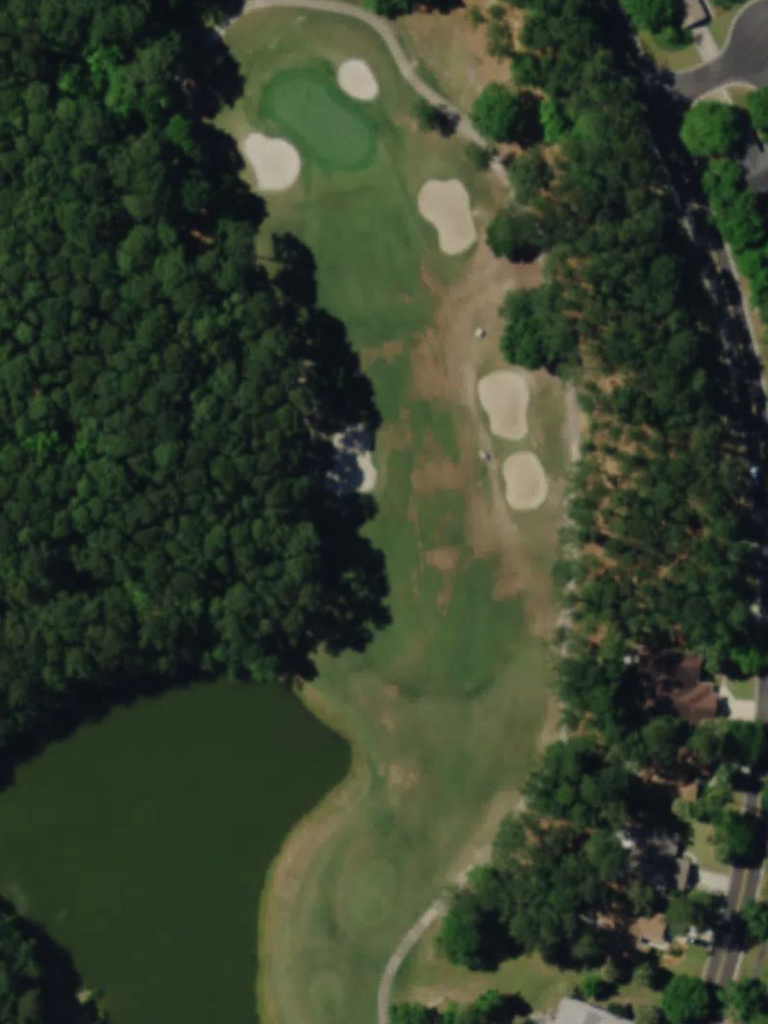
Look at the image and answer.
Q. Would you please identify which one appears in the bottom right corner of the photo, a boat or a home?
home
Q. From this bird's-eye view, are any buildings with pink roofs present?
No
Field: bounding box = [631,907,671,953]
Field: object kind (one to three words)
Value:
house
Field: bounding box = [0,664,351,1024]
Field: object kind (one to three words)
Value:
pond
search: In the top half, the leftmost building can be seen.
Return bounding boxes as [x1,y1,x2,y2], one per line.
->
[672,0,708,29]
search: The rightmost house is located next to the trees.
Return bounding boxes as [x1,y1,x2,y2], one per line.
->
[737,148,768,197]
